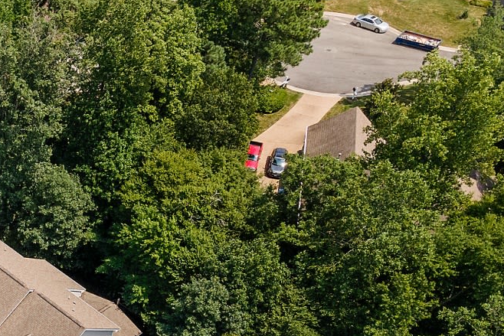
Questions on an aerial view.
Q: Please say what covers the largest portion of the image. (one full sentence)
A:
For the most part, this view shows trees.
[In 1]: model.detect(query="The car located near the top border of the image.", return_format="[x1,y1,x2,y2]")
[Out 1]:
[352,16,388,32]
